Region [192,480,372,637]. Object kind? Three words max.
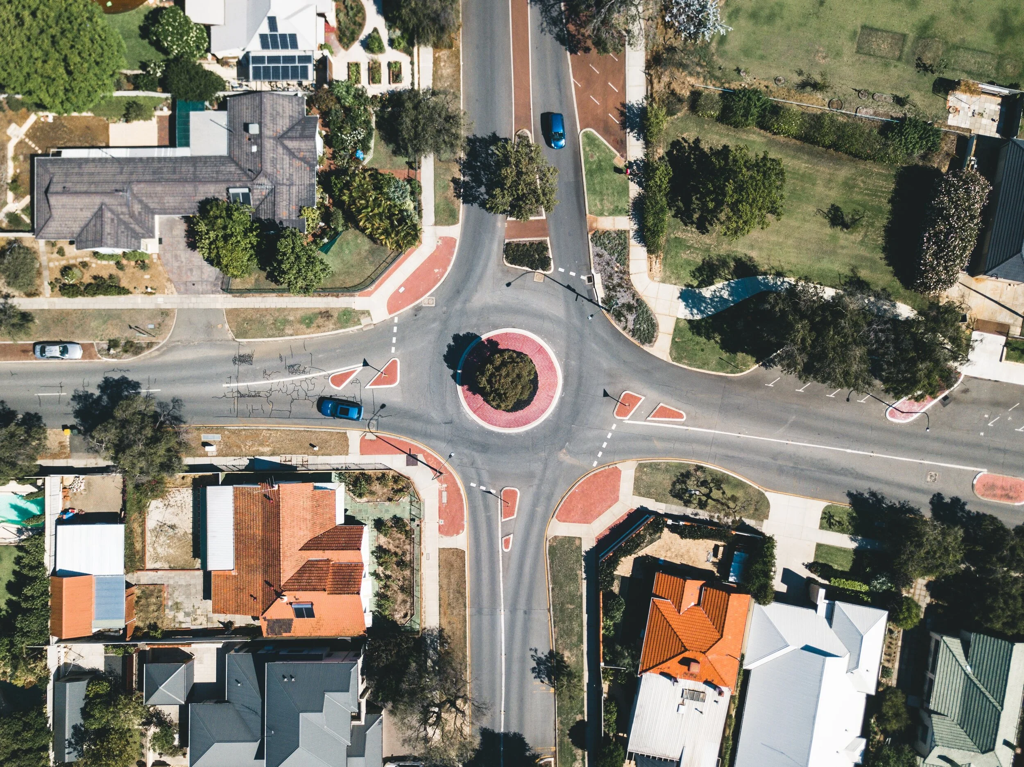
house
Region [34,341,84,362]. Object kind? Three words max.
car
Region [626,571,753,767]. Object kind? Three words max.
house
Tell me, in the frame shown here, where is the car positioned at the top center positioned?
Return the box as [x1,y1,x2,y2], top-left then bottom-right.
[549,112,567,150]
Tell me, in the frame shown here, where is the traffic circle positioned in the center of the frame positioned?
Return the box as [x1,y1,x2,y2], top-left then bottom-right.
[457,327,562,433]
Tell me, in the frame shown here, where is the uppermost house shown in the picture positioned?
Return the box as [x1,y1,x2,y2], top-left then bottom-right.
[185,0,327,88]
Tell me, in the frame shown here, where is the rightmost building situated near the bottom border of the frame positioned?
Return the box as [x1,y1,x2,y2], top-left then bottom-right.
[912,628,1024,767]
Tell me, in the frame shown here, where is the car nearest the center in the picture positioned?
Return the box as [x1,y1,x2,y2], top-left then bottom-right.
[321,400,364,421]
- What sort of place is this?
residential area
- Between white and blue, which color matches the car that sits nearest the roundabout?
blue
